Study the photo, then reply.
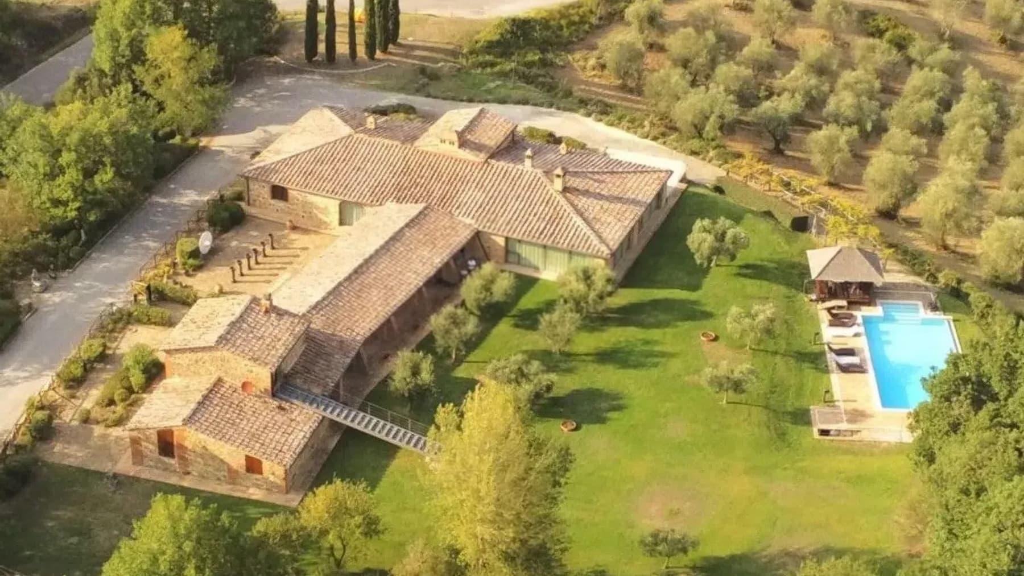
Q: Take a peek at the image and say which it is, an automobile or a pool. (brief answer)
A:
pool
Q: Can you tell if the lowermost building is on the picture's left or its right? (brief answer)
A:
left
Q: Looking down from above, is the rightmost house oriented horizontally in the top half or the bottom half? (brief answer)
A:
top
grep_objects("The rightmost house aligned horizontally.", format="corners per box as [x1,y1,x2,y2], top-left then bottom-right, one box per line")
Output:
[238,105,671,276]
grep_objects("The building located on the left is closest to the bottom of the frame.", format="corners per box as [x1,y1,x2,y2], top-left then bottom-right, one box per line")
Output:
[114,369,323,493]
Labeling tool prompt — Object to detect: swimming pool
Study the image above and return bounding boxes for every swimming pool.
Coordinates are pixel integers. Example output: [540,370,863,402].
[852,301,966,416]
